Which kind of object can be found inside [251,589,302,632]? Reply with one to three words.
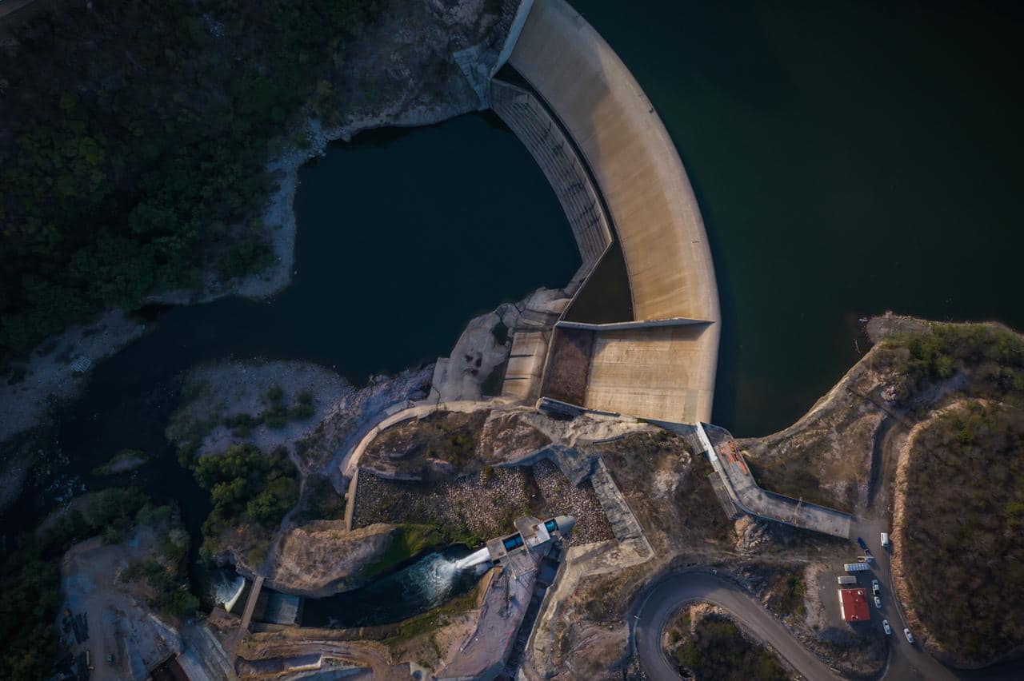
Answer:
dam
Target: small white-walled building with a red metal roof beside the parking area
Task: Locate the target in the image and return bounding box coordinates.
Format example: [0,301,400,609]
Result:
[837,585,870,622]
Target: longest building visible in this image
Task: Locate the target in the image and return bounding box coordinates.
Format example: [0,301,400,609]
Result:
[479,513,574,569]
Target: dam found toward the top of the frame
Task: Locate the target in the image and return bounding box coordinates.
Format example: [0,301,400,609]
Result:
[452,0,719,438]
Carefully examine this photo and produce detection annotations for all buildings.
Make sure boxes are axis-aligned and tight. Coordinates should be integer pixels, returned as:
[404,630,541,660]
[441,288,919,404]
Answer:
[479,513,574,569]
[837,585,870,622]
